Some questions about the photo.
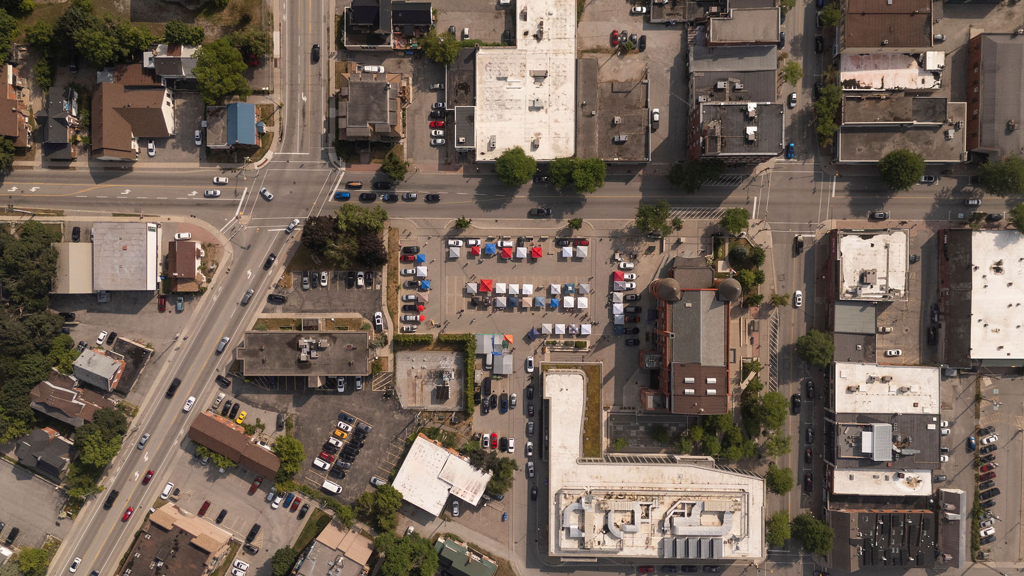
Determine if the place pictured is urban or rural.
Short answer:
urban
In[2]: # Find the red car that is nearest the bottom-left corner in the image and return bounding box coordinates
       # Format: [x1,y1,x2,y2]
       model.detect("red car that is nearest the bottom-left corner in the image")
[121,507,133,522]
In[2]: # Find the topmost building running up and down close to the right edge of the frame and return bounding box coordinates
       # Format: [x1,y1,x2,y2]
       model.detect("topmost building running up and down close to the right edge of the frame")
[964,28,1024,167]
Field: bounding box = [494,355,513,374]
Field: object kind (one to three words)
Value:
tent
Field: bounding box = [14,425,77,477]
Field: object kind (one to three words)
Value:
house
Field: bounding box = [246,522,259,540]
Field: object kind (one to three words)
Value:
vehicle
